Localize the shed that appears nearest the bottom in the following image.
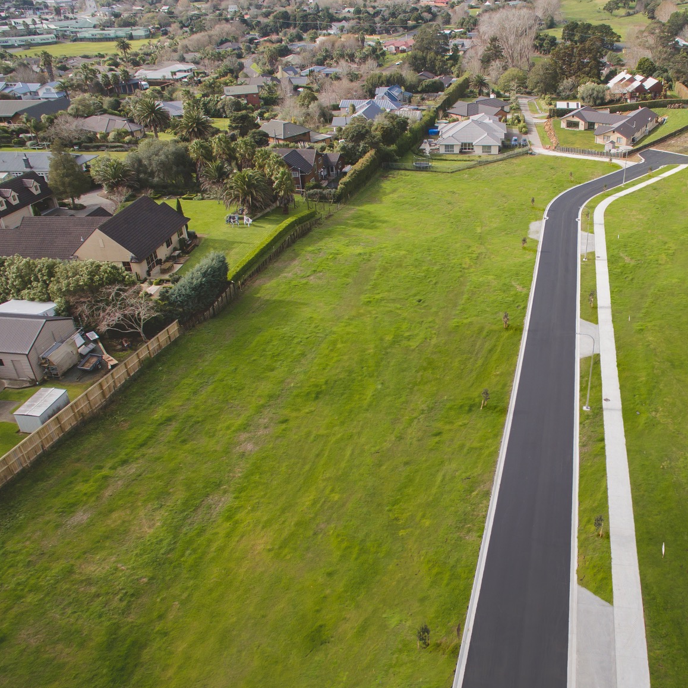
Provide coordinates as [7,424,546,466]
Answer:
[16,387,73,433]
